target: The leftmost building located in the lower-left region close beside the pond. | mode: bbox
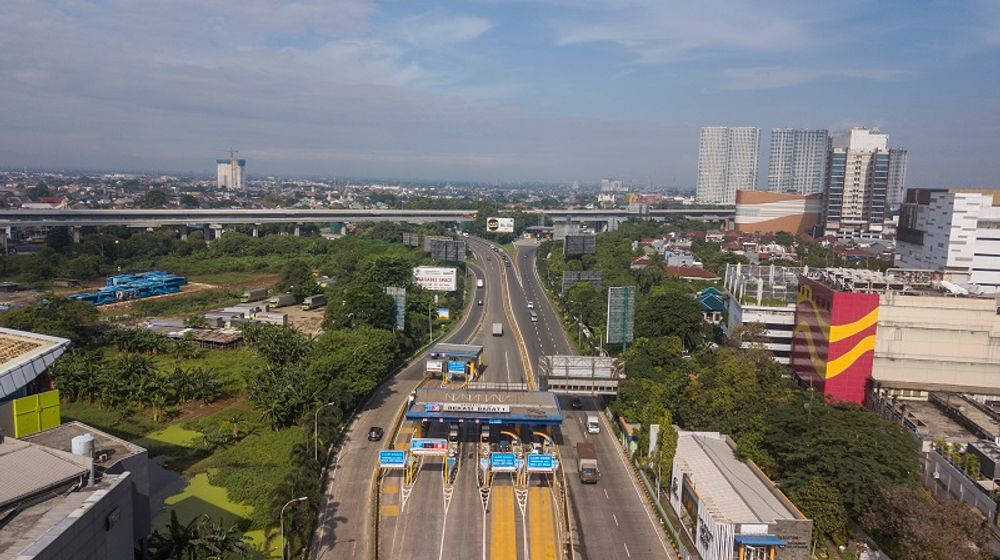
[0,330,149,560]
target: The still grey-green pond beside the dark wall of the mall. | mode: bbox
[138,419,278,560]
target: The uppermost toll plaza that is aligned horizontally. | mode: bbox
[521,223,553,237]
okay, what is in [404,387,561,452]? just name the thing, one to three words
toll station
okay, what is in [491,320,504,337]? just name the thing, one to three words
vehicle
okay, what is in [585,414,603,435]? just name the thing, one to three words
car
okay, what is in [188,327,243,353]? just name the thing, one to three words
shed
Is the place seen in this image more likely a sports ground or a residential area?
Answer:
residential area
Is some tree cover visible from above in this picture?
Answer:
Yes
